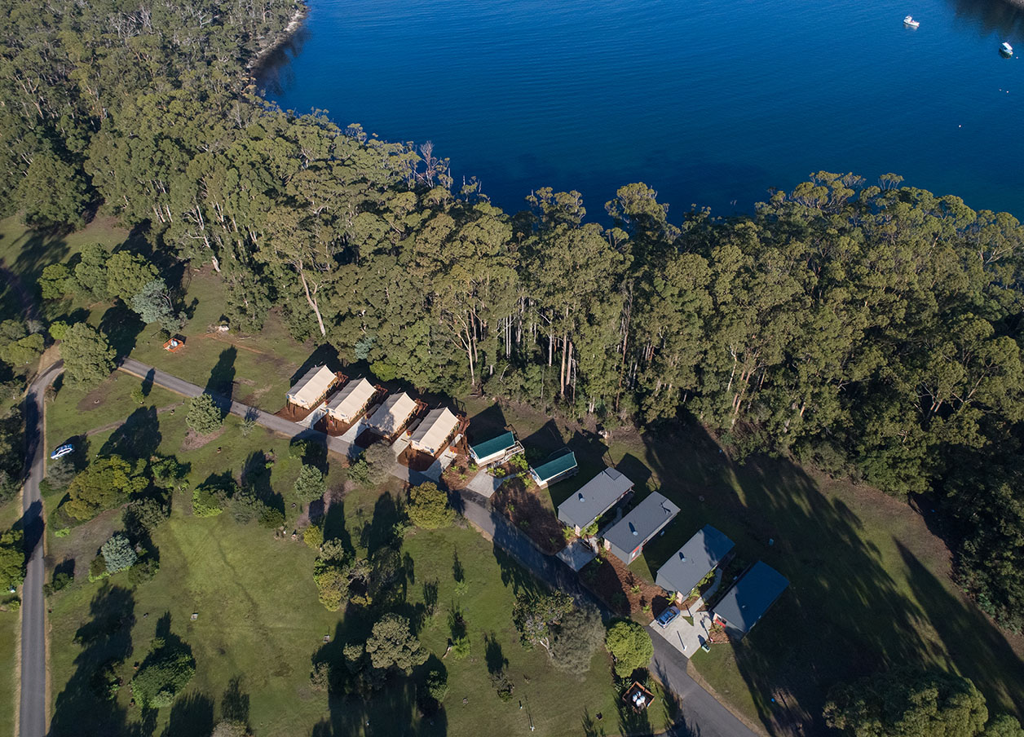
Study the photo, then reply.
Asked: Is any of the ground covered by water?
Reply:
Yes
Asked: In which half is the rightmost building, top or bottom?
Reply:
bottom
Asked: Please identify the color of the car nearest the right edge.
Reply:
blue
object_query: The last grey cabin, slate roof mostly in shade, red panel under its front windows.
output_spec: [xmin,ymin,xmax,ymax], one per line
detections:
[711,560,790,644]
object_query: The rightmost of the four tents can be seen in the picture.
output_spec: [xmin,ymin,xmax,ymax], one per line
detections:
[406,406,467,467]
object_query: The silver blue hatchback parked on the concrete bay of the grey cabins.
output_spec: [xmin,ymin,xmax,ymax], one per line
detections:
[654,603,683,628]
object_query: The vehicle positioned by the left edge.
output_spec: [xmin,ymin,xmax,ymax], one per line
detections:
[48,443,76,459]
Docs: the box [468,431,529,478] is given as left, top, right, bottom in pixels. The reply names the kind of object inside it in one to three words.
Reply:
building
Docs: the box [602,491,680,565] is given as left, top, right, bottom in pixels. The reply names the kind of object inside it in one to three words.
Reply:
building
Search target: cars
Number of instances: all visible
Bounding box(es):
[654,603,683,628]
[48,443,76,459]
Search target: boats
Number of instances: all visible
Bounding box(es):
[902,15,921,25]
[998,42,1016,53]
